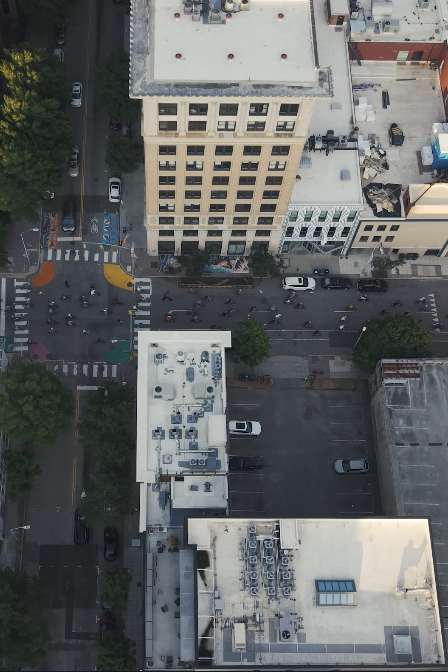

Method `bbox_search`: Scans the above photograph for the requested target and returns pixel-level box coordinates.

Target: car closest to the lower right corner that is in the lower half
[331,457,370,476]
